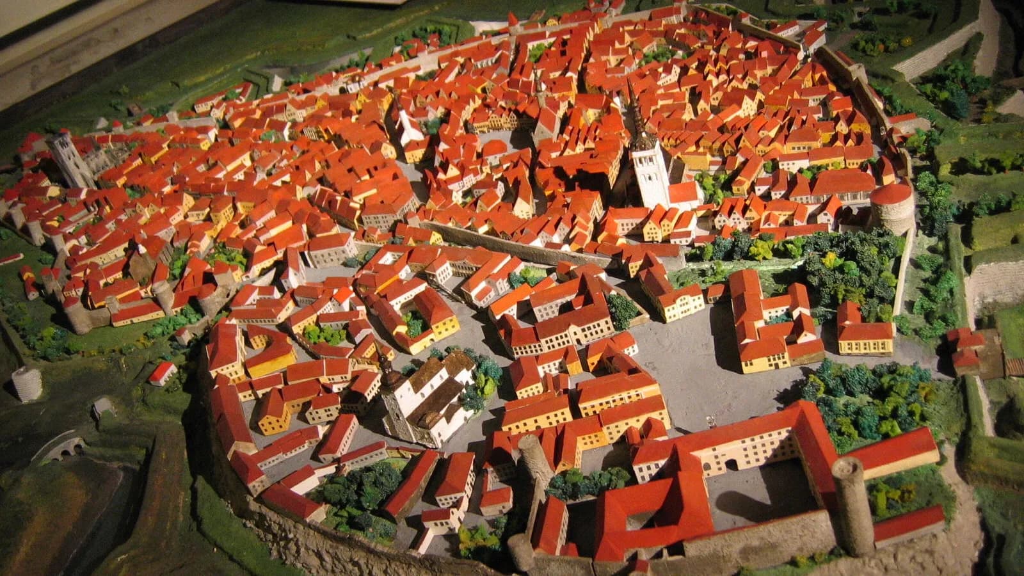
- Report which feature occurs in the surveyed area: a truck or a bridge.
bridge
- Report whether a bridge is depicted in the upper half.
No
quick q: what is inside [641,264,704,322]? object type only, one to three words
house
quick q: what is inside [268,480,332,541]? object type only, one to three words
building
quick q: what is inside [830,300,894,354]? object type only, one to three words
building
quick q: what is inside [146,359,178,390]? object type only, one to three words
house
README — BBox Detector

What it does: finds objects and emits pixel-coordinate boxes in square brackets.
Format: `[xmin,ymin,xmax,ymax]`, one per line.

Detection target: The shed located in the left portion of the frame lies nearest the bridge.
[86,394,114,422]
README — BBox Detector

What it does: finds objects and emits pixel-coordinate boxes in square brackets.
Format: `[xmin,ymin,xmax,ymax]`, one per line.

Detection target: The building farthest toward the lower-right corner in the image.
[872,503,946,547]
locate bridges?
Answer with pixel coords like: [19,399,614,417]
[37,437,92,470]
